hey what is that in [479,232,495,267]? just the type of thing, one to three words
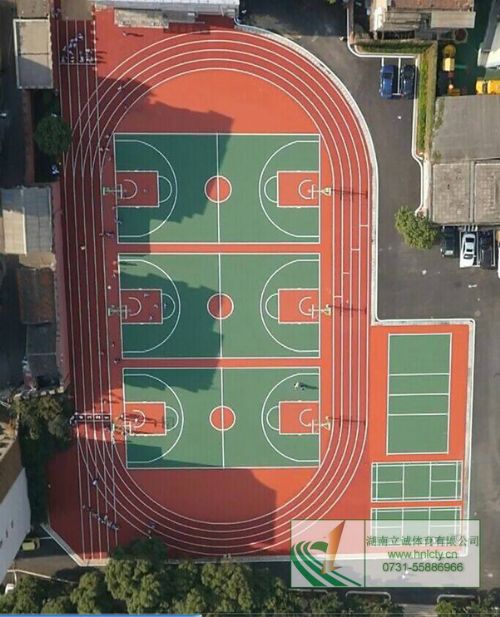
car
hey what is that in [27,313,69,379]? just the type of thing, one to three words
building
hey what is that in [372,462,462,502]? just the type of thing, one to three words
sports court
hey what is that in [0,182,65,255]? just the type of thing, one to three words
shed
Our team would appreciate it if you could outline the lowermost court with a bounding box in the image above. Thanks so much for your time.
[371,507,461,546]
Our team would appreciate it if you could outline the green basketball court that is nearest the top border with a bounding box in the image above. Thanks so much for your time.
[114,132,321,245]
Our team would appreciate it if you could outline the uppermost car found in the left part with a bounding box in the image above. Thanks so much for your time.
[19,538,41,553]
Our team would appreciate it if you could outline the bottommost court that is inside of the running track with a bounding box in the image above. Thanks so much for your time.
[123,368,320,468]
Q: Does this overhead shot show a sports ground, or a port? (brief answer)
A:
sports ground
